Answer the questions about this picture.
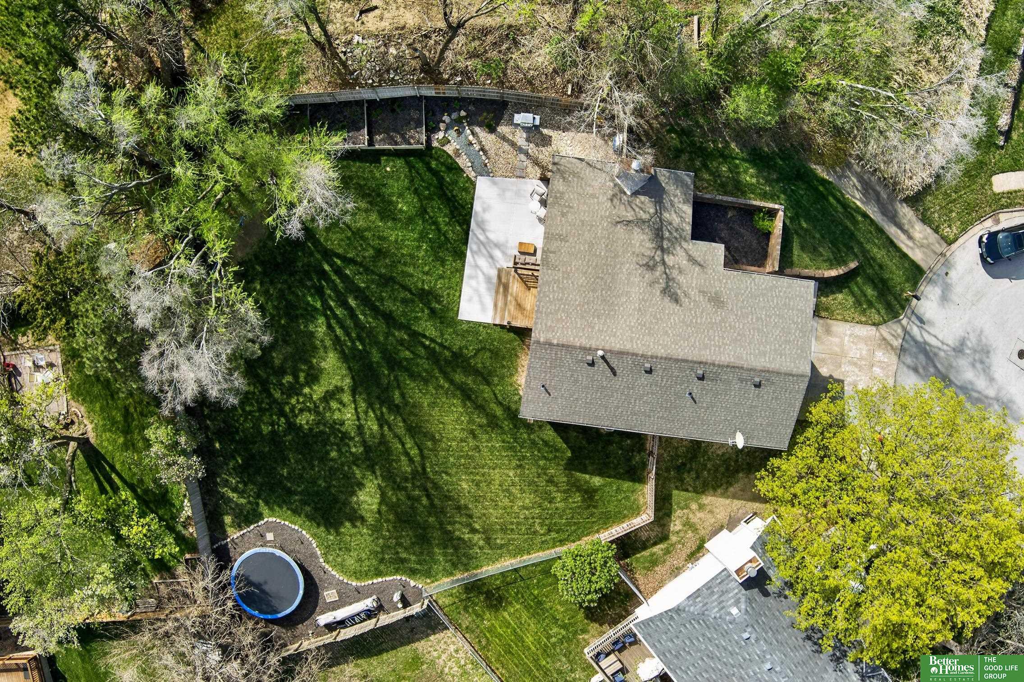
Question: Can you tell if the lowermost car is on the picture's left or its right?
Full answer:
You can find the lowermost car on the right side of the picture.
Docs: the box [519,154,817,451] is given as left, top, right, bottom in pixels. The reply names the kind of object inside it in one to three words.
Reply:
house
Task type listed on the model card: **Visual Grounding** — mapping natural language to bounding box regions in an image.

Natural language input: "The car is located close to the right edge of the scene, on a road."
[986,225,1024,265]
